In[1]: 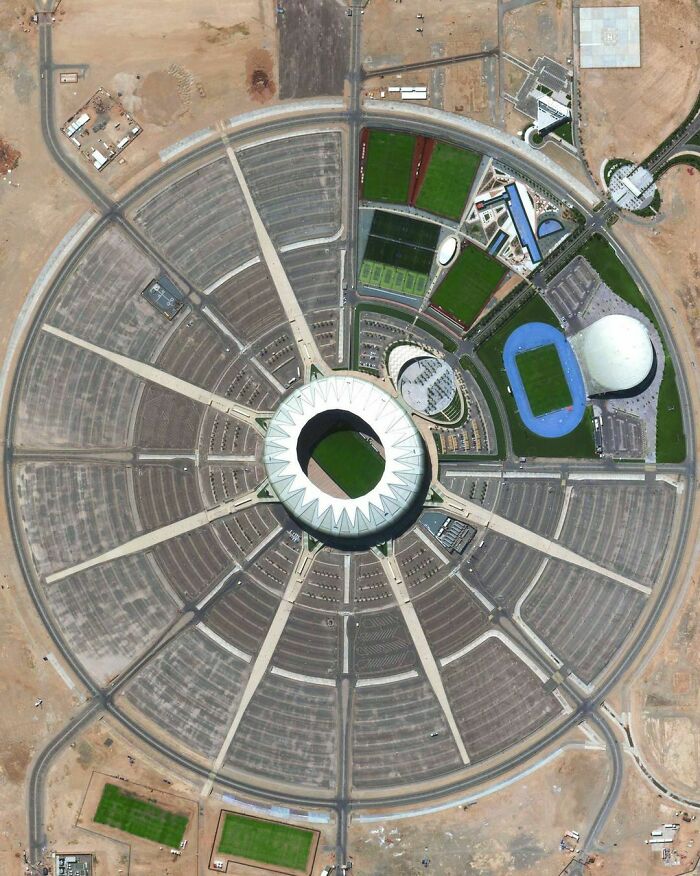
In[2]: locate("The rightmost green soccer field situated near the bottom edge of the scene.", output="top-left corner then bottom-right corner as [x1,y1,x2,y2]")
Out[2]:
[211,810,319,874]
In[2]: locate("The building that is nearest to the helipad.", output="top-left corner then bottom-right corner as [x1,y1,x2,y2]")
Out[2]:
[538,97,572,133]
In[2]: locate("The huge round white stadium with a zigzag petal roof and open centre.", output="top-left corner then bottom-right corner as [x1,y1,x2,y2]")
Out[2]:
[264,375,427,536]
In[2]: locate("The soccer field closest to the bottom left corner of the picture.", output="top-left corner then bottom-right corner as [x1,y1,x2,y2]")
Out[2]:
[86,777,195,855]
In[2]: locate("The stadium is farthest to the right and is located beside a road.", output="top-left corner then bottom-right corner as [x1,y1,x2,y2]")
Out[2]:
[568,317,658,397]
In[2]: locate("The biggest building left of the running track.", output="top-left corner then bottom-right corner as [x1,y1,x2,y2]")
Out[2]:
[390,346,438,390]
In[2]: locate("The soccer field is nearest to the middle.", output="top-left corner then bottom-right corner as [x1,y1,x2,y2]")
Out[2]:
[306,417,386,498]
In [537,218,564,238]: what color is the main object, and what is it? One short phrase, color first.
blue swimming pool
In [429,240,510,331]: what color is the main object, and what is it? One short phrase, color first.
green soccer field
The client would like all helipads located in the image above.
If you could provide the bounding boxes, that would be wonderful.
[579,7,640,68]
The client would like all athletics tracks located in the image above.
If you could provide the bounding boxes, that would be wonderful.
[502,323,586,437]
